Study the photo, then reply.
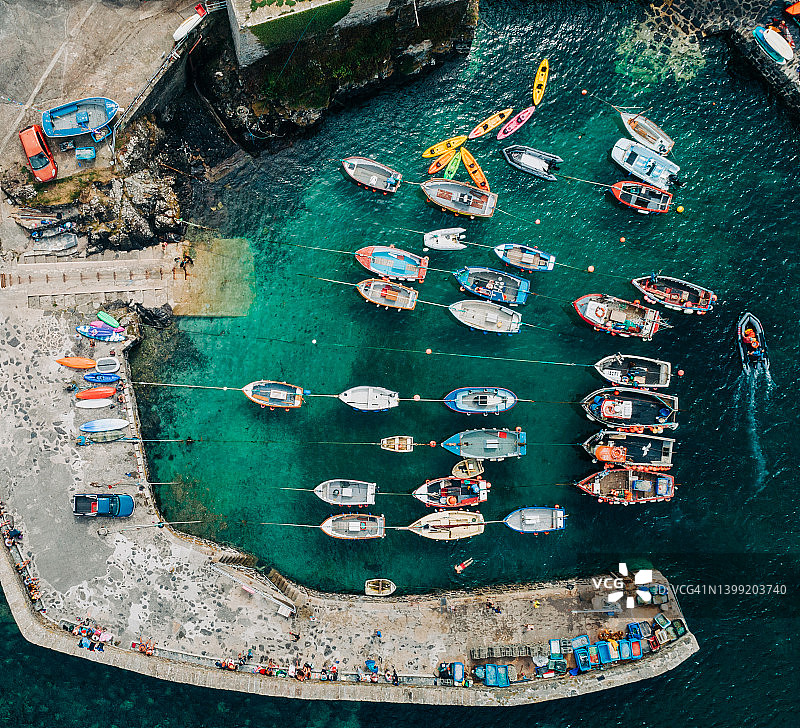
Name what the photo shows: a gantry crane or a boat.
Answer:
boat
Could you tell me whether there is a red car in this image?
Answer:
Yes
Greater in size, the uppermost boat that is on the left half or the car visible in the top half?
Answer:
the car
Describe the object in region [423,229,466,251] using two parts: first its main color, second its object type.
white boat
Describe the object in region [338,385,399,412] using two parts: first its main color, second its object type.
white boat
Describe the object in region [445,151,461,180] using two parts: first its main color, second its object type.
green boat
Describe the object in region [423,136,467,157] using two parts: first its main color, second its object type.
yellow boat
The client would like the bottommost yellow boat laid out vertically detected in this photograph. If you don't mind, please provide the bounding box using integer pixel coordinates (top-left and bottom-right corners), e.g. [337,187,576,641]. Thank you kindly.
[534,59,548,105]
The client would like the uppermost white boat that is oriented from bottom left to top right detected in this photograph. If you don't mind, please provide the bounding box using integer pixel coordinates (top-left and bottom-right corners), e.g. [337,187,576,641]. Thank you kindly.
[173,10,203,40]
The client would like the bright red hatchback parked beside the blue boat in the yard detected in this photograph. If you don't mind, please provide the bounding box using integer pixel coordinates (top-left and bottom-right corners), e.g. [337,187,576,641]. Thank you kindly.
[16,124,60,184]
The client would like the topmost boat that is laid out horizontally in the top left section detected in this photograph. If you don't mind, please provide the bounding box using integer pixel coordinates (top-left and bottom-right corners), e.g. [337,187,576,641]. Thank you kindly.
[44,99,122,141]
